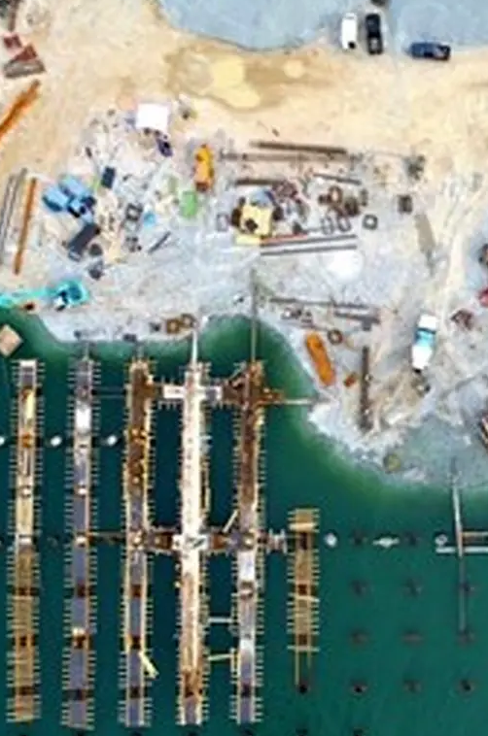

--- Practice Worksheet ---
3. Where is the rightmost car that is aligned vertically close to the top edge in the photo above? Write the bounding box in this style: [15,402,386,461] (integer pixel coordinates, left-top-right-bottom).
[364,10,383,52]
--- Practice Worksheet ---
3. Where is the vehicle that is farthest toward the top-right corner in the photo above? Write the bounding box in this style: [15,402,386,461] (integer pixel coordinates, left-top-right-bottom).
[410,39,449,59]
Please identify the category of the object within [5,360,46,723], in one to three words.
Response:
pier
